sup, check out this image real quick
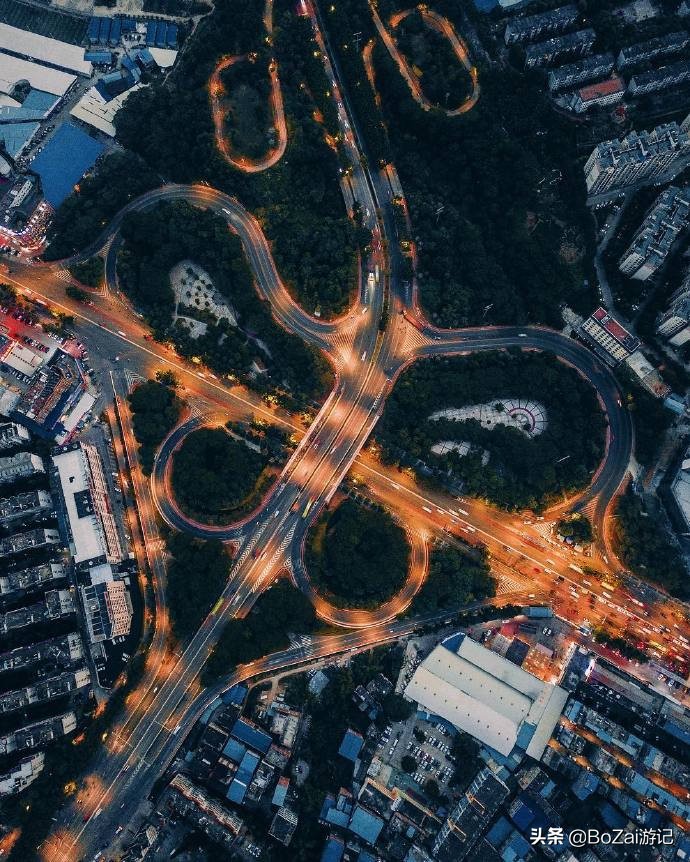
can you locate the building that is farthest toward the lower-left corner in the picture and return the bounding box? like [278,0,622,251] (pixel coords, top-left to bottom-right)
[0,749,50,799]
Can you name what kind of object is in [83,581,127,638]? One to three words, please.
building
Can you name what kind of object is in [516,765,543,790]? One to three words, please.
house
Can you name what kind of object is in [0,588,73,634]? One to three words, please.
building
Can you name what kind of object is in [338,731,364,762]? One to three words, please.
house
